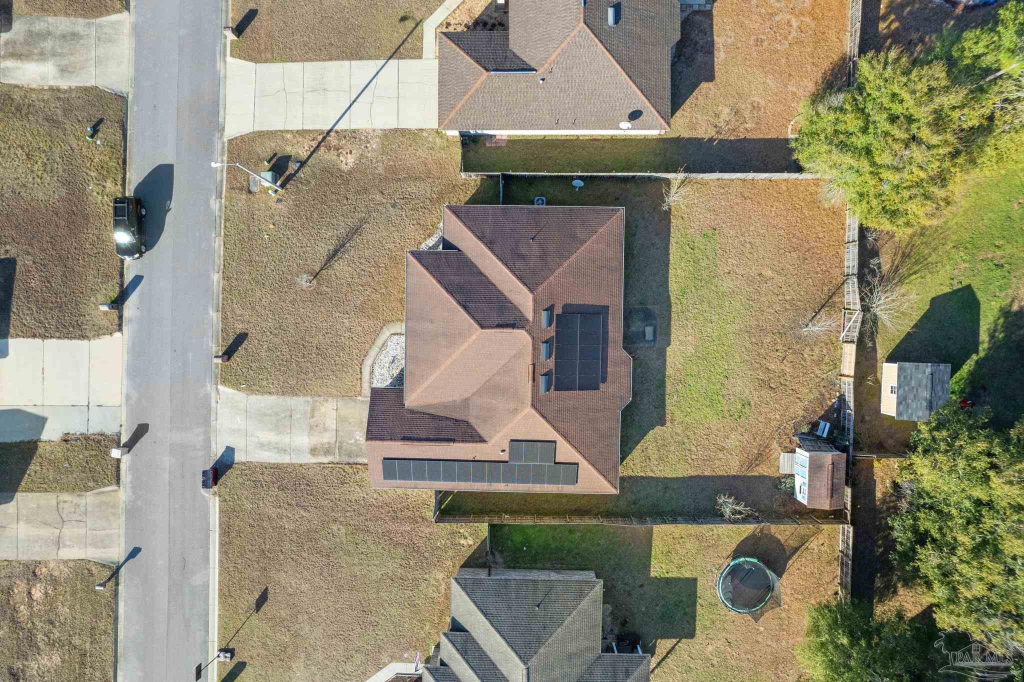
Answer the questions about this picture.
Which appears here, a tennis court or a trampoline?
trampoline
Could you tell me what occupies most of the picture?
grass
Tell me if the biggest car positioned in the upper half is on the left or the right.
left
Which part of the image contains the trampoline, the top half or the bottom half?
bottom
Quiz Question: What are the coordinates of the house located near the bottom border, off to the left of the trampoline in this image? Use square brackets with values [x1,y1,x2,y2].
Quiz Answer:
[421,571,652,682]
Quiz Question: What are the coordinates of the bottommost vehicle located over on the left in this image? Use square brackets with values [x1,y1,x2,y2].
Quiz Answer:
[115,198,150,262]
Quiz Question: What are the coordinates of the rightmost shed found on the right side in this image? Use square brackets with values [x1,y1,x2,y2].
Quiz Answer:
[882,363,951,421]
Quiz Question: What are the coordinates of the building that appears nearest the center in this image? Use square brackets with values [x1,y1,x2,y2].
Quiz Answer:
[366,204,633,494]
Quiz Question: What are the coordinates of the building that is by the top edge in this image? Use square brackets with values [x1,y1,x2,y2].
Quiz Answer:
[437,0,681,136]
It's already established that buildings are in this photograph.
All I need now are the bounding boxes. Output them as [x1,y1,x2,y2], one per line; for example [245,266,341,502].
[366,204,633,494]
[793,447,847,511]
[421,571,652,682]
[882,363,951,421]
[437,0,681,136]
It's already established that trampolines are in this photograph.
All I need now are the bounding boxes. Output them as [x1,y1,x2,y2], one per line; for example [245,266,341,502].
[714,550,786,626]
